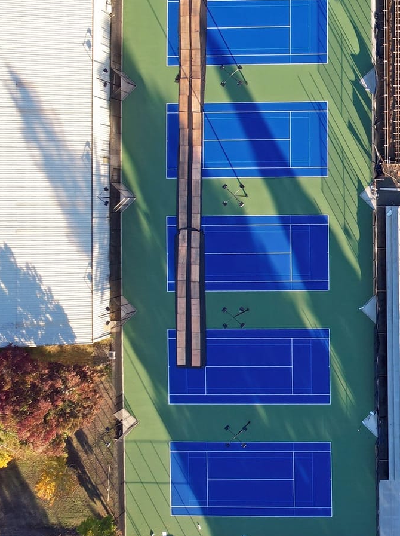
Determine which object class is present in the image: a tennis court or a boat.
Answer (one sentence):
I can see a tennis court in this picture.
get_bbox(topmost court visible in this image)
[167,0,328,65]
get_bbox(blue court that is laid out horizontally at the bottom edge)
[170,441,332,517]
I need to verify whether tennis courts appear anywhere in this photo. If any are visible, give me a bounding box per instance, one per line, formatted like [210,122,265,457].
[168,328,331,405]
[170,441,332,517]
[166,100,328,179]
[167,0,328,65]
[167,215,329,292]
